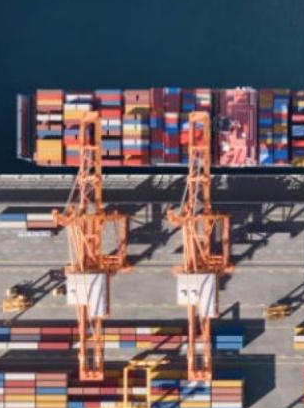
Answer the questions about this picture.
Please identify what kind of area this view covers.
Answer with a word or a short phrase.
port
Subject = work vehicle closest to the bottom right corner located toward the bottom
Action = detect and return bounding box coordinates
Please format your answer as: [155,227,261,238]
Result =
[265,302,293,318]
